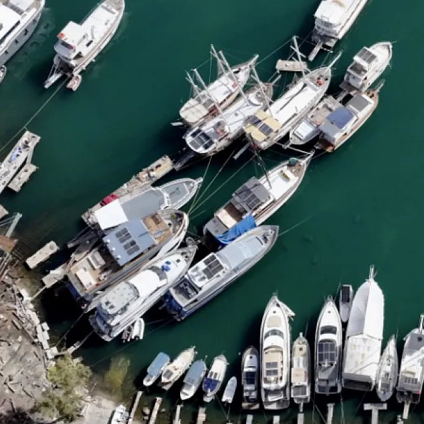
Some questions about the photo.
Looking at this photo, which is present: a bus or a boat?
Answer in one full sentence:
Of the two, only a boat appears.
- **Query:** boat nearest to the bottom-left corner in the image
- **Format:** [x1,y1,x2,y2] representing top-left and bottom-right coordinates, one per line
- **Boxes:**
[113,406,129,424]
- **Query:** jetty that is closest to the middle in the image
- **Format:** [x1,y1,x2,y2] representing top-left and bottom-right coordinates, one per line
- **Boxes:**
[83,154,176,224]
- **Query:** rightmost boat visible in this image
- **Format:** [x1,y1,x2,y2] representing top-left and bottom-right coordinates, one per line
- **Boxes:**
[397,314,424,419]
